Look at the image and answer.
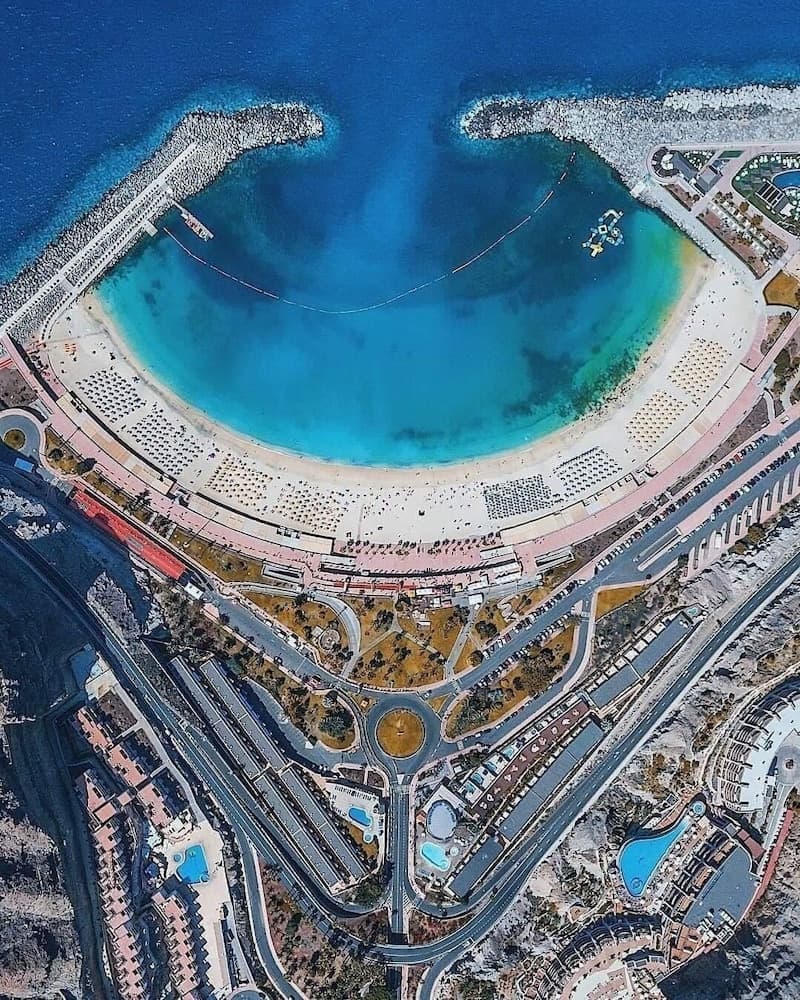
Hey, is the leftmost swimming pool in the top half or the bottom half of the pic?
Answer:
bottom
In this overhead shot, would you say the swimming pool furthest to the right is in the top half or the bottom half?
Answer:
top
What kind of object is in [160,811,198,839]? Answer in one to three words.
building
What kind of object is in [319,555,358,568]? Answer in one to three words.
building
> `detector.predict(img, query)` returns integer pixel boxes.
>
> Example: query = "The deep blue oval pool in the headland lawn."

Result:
[772,169,800,190]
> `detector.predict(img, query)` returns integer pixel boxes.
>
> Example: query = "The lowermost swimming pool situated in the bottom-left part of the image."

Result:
[172,844,209,884]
